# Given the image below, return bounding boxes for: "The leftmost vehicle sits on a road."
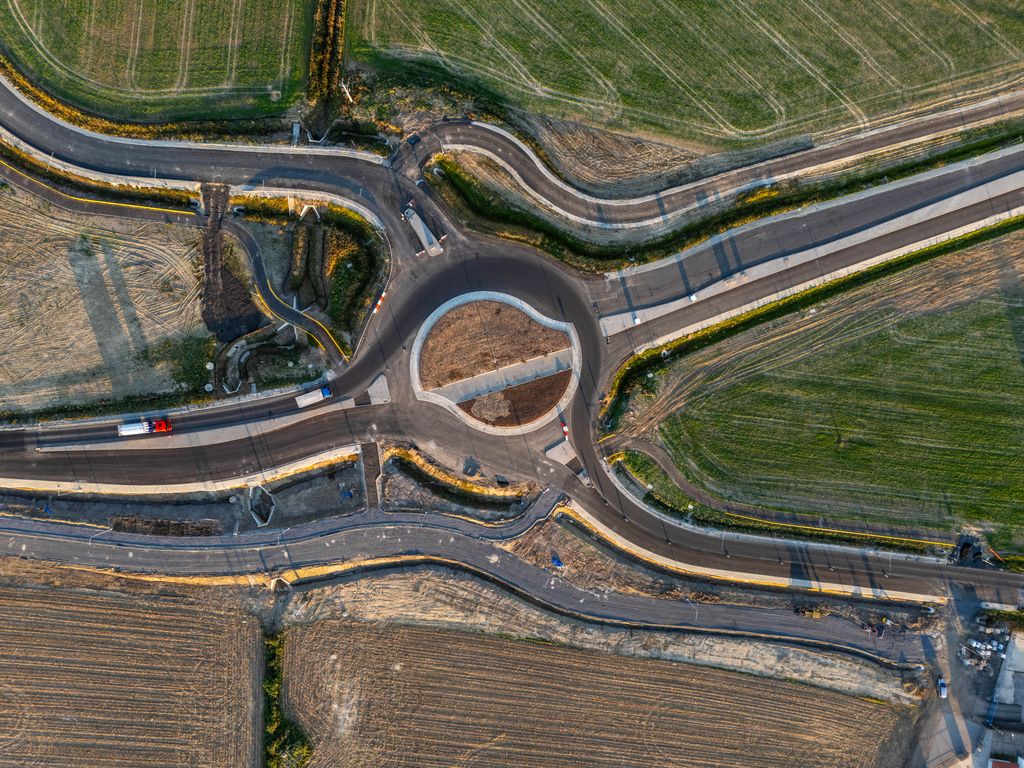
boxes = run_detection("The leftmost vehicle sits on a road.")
[116,418,176,435]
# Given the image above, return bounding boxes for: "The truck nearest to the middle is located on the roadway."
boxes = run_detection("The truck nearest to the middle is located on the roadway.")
[294,385,336,408]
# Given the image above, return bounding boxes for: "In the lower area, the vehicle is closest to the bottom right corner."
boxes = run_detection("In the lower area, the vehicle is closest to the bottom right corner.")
[934,677,947,698]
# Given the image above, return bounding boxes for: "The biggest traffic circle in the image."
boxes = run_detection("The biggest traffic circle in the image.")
[340,195,635,500]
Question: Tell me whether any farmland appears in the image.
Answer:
Yes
